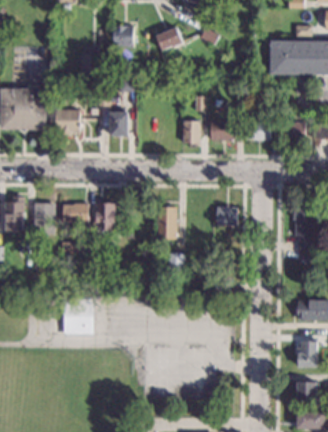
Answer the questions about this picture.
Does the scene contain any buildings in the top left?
Yes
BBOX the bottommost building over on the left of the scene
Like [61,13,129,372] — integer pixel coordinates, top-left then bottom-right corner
[64,300,96,337]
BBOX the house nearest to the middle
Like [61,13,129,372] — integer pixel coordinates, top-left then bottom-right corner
[158,204,178,240]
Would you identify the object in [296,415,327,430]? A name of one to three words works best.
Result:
house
